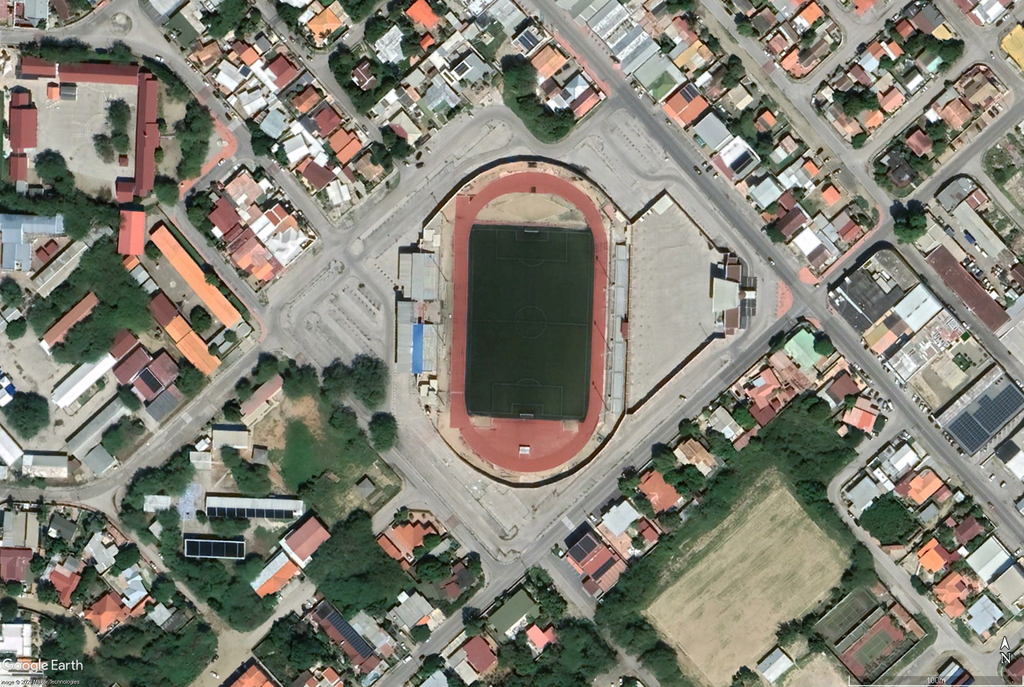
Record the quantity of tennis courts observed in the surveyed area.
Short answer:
2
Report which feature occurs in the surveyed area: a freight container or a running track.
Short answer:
running track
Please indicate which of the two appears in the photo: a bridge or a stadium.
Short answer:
stadium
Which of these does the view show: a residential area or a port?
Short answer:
residential area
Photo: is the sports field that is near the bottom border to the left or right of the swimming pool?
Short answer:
on the right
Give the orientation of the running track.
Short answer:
from top to bottom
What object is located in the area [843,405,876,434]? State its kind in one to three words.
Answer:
house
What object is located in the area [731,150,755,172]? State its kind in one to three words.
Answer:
solar panel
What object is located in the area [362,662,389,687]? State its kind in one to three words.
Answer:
swimming pool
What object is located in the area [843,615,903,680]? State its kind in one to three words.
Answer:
tennis court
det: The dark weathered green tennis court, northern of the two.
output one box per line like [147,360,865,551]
[817,589,879,644]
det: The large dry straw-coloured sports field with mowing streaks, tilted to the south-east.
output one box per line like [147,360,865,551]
[644,483,852,687]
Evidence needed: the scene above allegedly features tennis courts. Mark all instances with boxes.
[817,589,879,644]
[843,615,903,680]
